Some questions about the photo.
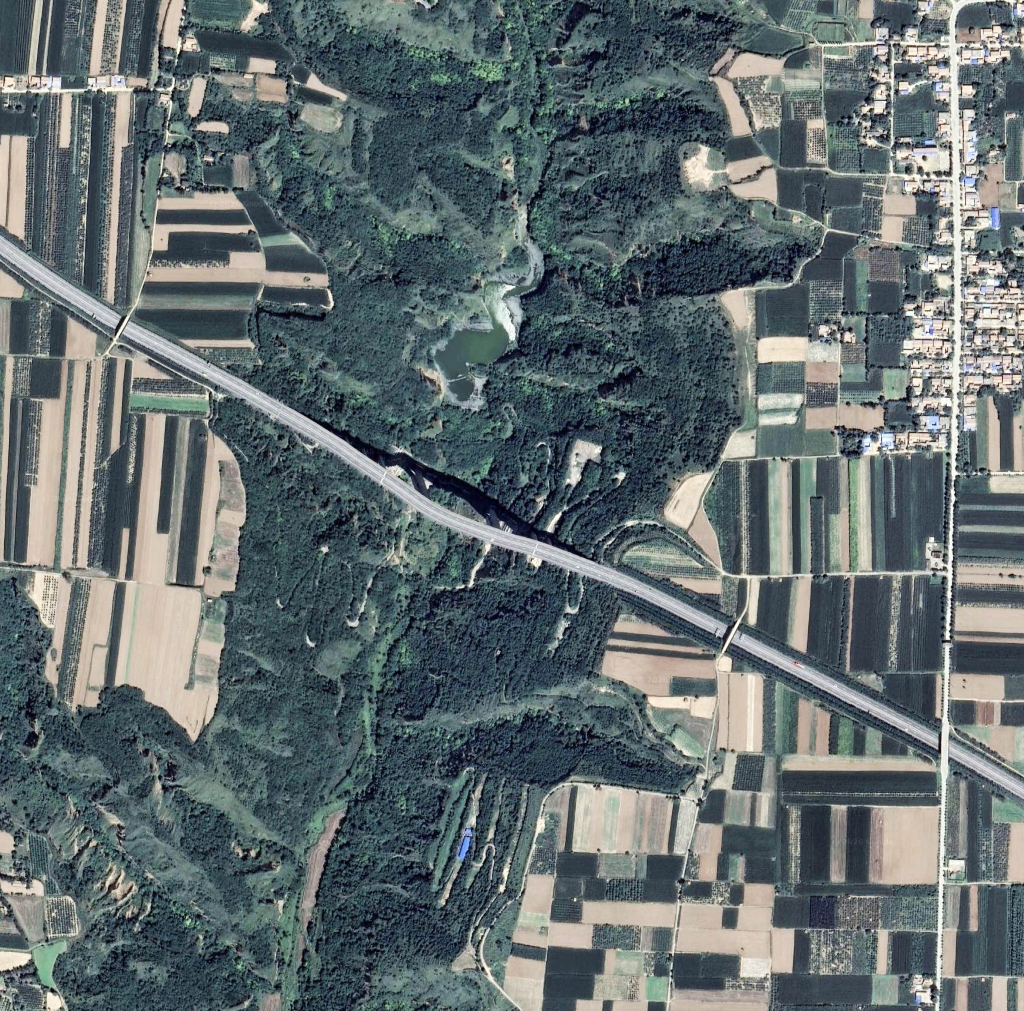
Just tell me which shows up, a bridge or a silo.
bridge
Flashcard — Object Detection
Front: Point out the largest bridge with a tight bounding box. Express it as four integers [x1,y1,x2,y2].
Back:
[282,415,607,581]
